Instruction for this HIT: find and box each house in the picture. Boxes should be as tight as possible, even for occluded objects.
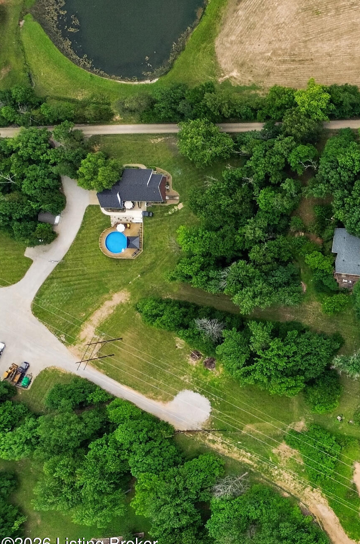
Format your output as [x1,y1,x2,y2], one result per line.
[333,228,360,276]
[97,169,166,208]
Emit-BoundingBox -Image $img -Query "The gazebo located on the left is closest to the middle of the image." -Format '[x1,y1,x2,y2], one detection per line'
[127,236,143,249]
